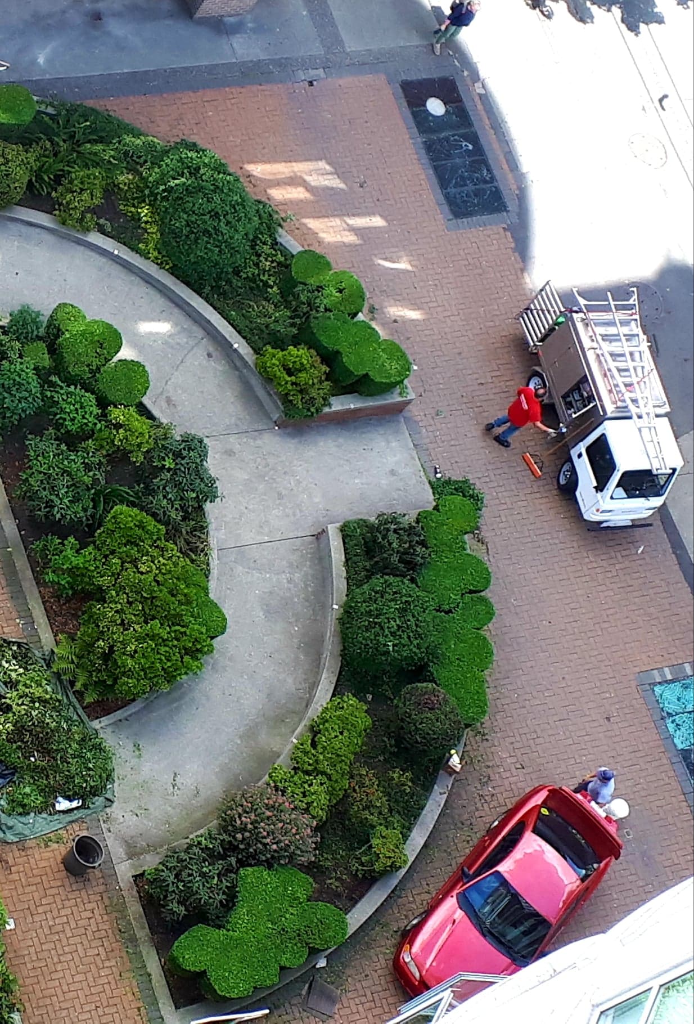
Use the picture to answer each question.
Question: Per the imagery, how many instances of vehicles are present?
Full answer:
In total, 2 vehicles can be seen.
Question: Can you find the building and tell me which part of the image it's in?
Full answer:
The building sits in the bottom right section of the image.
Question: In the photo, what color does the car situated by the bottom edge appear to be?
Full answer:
From above, the car situated by the bottom edge appears red.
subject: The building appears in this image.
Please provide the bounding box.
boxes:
[409,877,694,1024]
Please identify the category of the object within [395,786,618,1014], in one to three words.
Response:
car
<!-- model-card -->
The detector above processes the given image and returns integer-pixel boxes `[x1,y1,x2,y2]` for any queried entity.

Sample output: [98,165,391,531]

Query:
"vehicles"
[521,279,680,528]
[395,786,618,1014]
